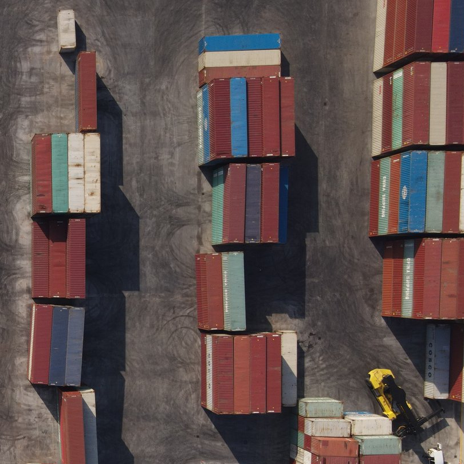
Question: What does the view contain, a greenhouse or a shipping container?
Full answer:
Of the two, only a shipping container appears.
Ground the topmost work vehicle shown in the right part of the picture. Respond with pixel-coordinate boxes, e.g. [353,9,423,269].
[371,369,439,437]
